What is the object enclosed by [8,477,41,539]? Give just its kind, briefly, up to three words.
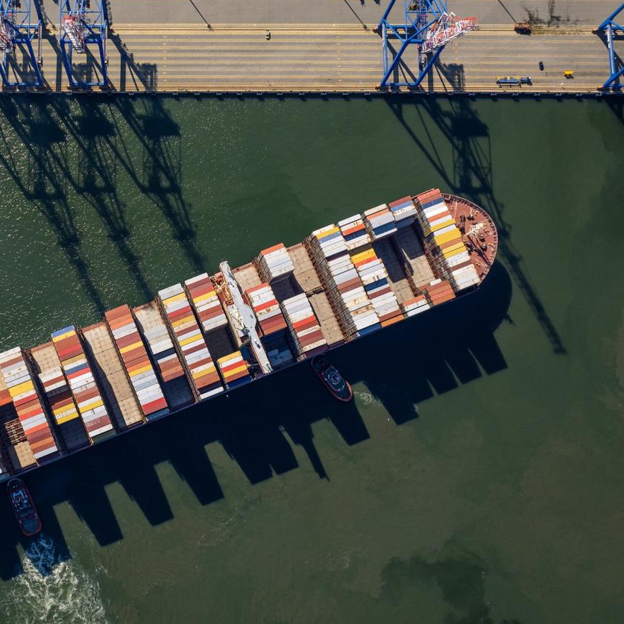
boat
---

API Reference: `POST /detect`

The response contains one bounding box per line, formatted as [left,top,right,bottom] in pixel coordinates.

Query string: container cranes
[590,4,624,88]
[53,0,116,87]
[0,0,53,87]
[371,0,487,88]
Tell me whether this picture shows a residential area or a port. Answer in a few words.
port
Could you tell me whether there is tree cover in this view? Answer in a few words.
No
